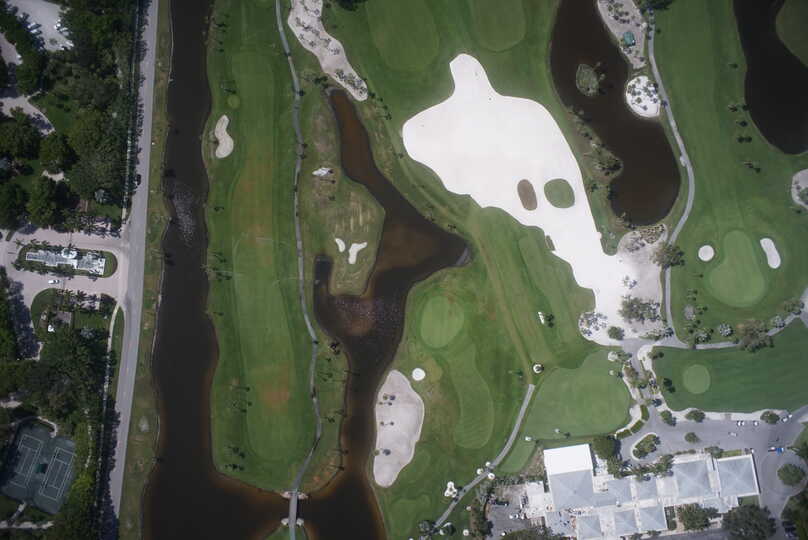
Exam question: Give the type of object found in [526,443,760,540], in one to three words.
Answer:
building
